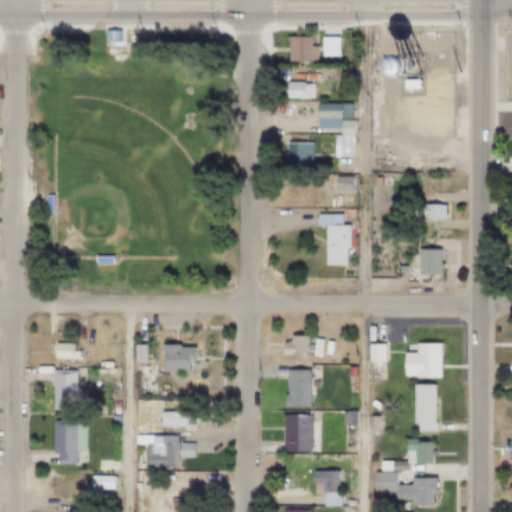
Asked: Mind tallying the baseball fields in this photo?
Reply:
1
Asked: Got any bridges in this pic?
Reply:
No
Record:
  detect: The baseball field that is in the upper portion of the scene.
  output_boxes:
[58,92,218,257]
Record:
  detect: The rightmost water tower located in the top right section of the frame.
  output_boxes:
[380,53,424,76]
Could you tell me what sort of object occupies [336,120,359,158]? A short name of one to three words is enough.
building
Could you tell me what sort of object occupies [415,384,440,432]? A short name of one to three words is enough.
house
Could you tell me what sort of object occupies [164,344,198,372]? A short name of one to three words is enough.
house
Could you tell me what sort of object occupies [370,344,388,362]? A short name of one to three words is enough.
building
